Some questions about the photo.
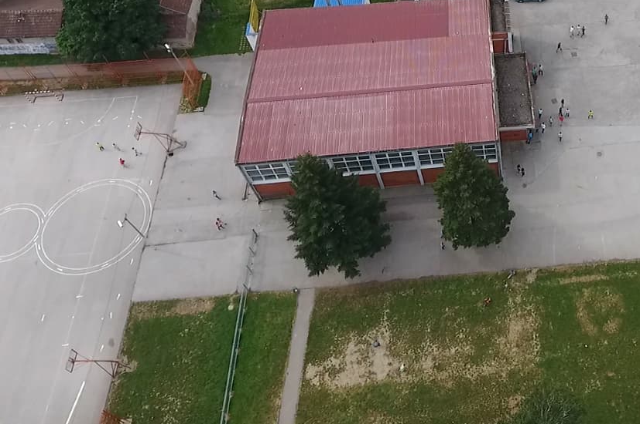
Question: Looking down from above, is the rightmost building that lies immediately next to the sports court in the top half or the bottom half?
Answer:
top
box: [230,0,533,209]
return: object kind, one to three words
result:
building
